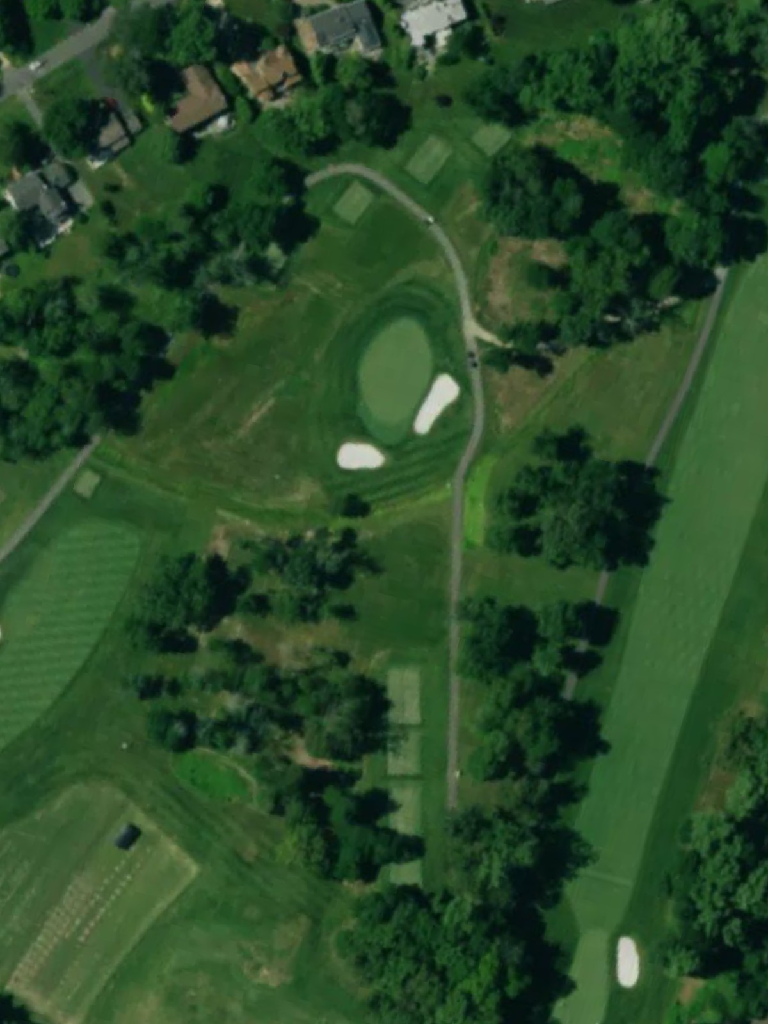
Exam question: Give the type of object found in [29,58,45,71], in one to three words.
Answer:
vehicle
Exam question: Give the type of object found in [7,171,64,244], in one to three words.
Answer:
house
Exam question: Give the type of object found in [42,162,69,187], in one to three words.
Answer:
house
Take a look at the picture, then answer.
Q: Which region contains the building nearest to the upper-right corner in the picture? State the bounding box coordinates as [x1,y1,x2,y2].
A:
[400,0,470,45]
